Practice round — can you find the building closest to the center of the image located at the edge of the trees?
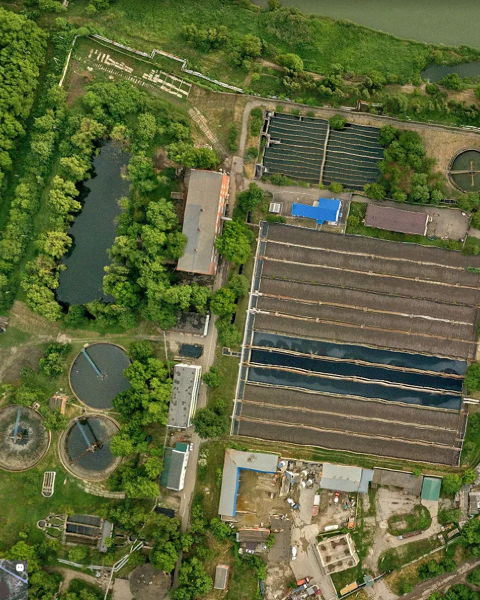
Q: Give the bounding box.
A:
[170,312,210,337]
